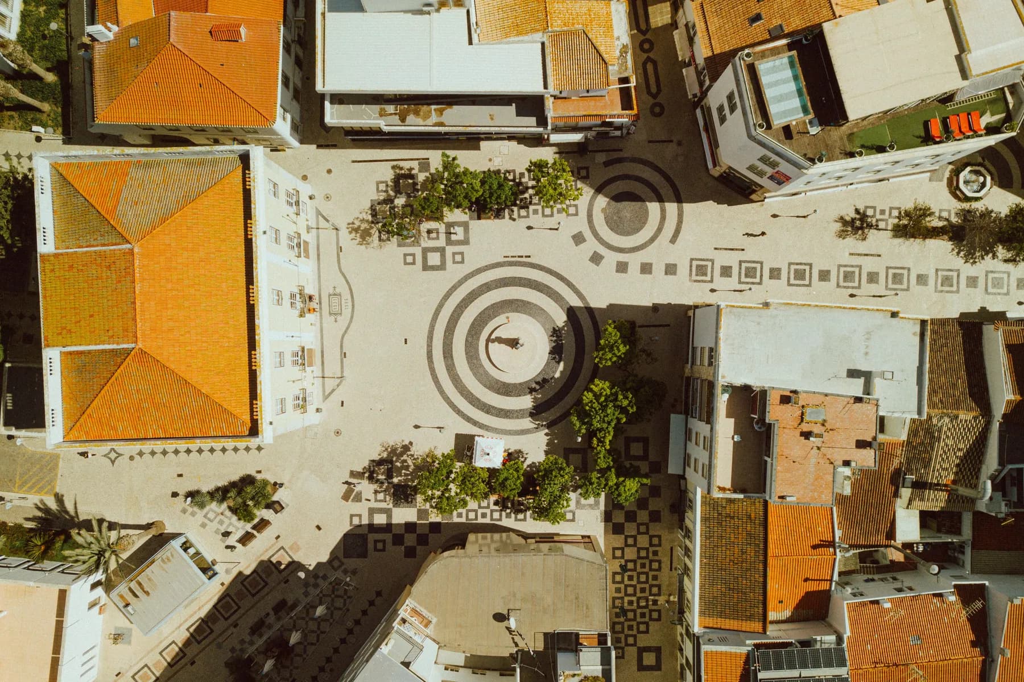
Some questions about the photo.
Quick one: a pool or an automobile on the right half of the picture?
pool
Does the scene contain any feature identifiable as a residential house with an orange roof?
Yes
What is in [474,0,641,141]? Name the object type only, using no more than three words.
house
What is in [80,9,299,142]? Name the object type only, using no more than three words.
house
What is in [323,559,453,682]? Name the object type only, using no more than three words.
building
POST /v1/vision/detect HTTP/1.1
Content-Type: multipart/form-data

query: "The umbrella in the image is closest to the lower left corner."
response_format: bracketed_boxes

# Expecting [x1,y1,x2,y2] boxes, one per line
[263,655,279,674]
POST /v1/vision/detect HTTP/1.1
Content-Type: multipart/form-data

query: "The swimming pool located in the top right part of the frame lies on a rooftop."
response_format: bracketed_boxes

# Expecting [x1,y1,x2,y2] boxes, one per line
[753,51,812,131]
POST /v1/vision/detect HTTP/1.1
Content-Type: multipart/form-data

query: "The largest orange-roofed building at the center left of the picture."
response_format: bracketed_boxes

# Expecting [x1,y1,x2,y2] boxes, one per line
[38,147,314,448]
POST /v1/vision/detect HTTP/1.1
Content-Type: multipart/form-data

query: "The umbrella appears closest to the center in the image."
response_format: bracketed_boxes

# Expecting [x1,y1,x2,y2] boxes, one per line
[473,436,505,468]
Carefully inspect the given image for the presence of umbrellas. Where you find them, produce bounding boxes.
[291,626,306,644]
[263,655,279,674]
[473,436,505,468]
[316,601,329,618]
